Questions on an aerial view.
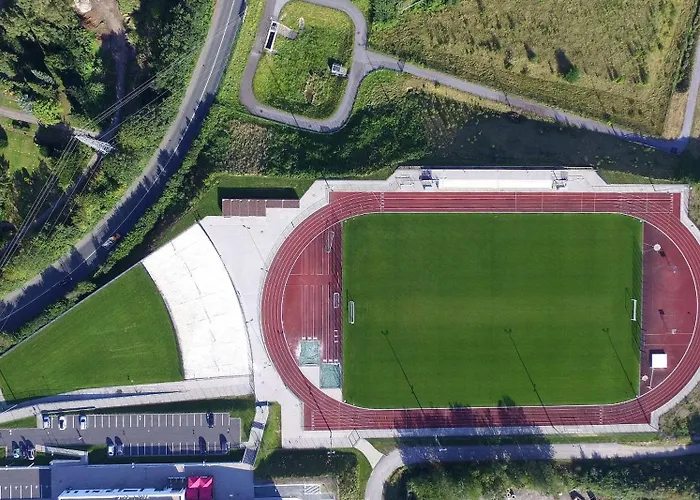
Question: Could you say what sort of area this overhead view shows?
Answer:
sports ground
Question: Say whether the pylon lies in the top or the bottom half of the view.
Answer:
top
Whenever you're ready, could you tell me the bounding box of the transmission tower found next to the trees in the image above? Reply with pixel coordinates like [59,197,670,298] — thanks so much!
[70,133,114,157]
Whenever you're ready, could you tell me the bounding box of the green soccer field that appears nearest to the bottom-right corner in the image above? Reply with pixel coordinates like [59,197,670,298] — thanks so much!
[342,213,644,408]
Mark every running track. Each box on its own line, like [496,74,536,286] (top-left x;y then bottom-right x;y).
[261,192,700,430]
